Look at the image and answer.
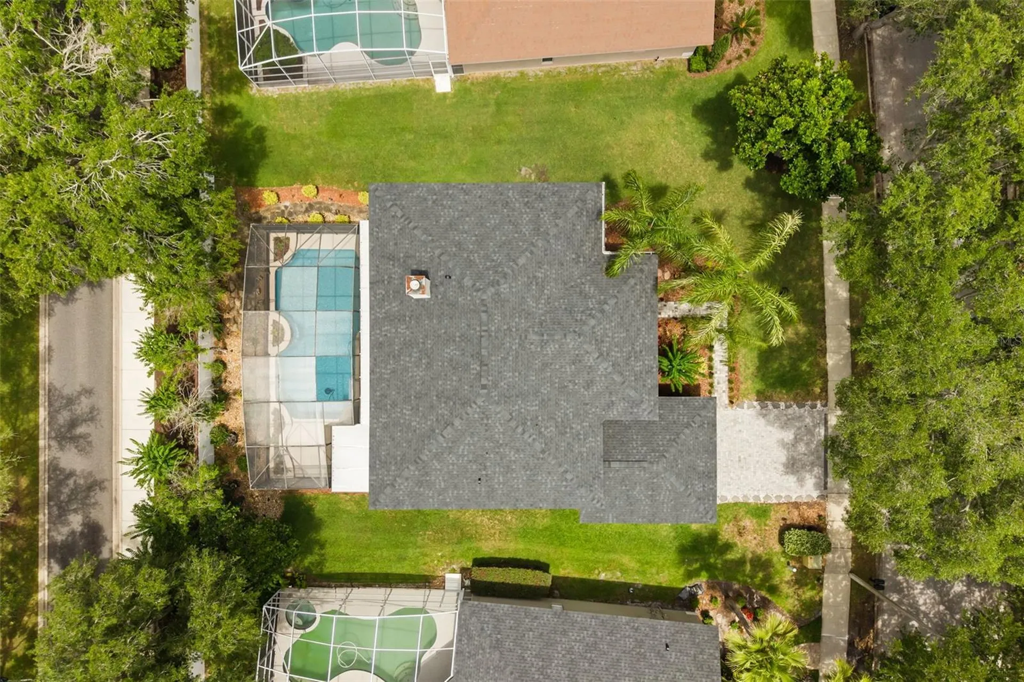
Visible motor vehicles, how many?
none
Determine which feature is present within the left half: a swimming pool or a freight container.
swimming pool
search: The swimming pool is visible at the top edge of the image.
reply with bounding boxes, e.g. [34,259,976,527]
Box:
[261,0,425,70]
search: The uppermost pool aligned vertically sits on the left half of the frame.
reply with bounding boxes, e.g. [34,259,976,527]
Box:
[271,244,357,423]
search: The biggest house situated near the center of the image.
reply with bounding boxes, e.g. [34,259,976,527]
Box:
[369,183,717,523]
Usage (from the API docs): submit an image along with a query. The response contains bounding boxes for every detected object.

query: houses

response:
[369,183,717,523]
[454,592,719,682]
[441,0,716,74]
